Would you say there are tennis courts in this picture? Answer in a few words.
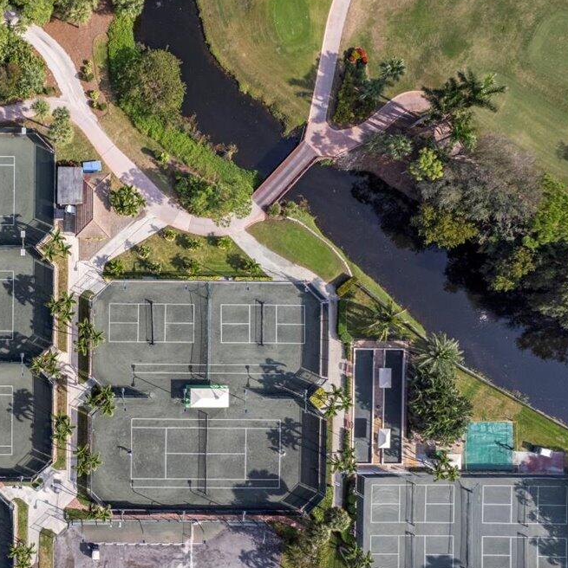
Yes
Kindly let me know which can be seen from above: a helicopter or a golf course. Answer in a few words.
golf course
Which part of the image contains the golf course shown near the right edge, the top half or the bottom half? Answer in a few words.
top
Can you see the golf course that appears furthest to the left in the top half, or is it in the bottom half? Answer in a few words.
top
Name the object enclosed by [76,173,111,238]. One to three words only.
building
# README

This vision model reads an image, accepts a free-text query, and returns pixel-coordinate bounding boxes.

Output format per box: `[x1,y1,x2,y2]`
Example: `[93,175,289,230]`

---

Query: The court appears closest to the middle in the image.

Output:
[206,283,319,398]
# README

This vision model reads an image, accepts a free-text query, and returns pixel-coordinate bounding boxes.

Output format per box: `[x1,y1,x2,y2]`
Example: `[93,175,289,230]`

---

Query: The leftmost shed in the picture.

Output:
[58,164,82,204]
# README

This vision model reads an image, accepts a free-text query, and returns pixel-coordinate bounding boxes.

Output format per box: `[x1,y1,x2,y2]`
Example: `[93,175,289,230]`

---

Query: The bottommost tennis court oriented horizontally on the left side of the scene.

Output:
[89,398,320,510]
